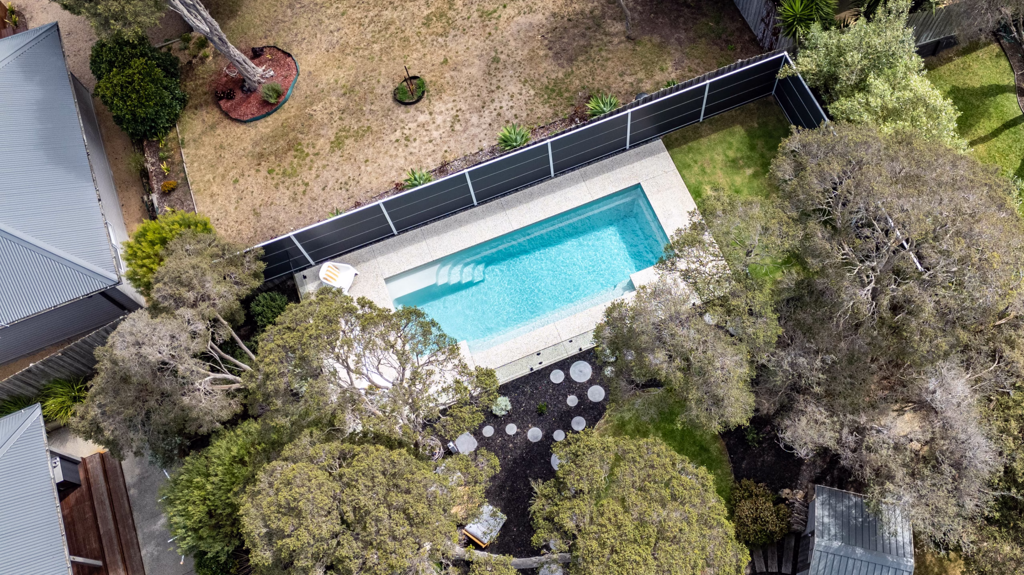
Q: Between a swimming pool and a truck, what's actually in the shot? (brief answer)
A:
swimming pool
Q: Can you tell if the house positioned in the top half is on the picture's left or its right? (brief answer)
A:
left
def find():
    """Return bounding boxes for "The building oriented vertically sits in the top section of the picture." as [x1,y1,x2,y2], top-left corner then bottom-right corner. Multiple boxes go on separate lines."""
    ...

[0,15,147,362]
